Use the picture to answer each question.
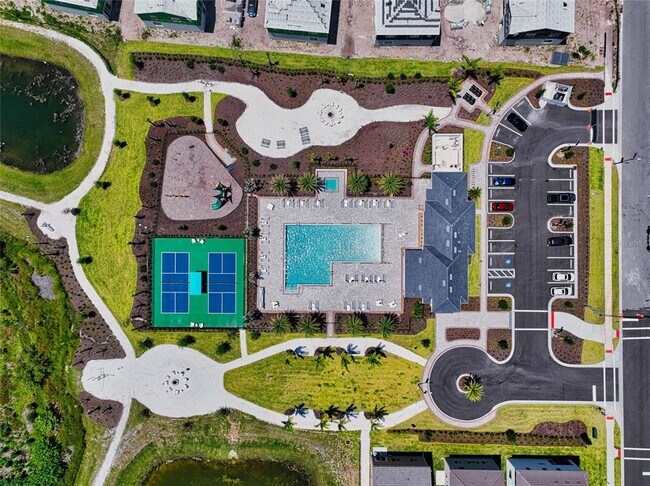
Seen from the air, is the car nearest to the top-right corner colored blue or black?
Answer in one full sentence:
In this view, the car nearest to the top-right corner is black.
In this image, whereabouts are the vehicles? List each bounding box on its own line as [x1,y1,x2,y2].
[547,235,571,246]
[247,0,258,18]
[547,192,574,204]
[506,113,527,133]
[491,201,513,212]
[550,286,572,296]
[491,176,514,187]
[551,272,573,282]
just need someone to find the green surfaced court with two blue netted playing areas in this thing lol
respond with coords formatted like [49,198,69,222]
[154,238,244,327]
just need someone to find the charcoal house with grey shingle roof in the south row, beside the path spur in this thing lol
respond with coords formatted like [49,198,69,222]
[371,446,430,486]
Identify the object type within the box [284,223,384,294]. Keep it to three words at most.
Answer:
swimming pool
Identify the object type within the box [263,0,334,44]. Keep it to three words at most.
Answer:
house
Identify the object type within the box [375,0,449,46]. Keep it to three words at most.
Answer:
house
